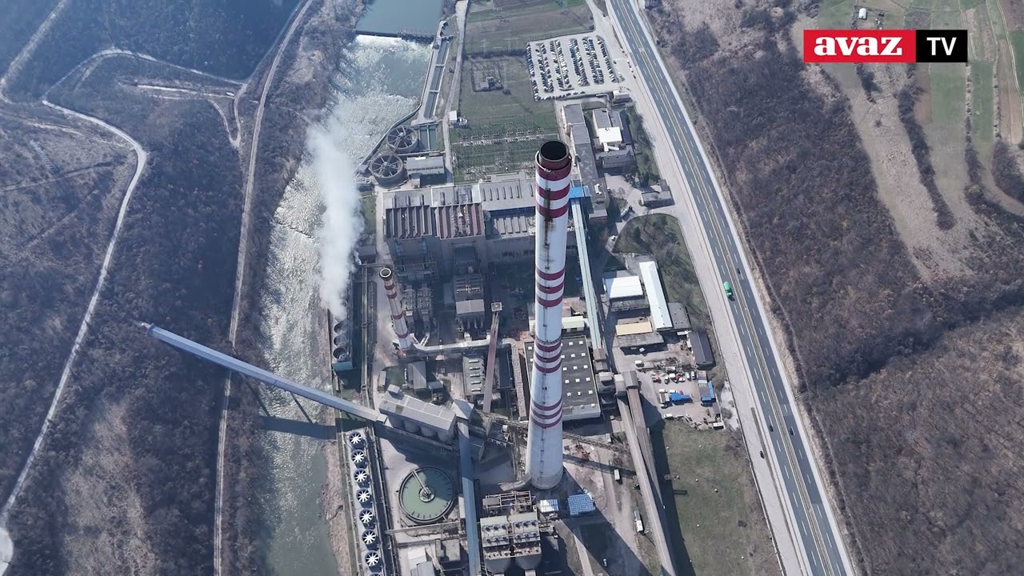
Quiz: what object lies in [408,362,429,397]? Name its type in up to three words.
building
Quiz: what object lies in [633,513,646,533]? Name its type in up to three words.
vehicle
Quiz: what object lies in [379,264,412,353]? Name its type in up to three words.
chimney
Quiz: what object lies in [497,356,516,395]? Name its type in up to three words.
shed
